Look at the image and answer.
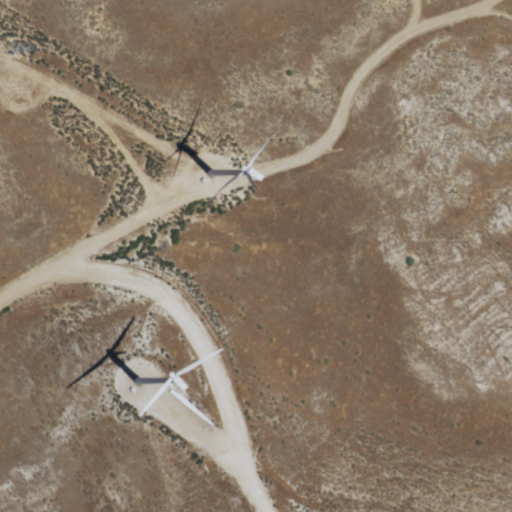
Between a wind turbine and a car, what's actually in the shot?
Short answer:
wind turbine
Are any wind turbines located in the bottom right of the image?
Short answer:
No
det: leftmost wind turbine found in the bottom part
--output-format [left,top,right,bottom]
[132,350,219,414]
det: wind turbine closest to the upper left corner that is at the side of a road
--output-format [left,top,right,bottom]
[204,124,278,192]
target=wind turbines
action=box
[132,350,219,414]
[204,124,278,192]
